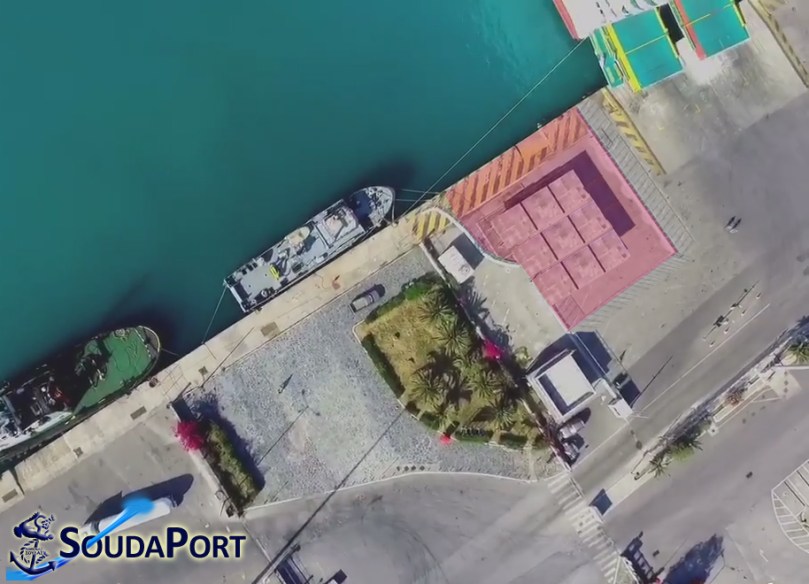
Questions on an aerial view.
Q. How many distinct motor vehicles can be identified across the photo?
4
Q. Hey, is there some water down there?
Yes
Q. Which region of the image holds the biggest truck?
bottom left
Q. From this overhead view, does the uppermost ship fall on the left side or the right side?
right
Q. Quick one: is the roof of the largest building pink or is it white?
pink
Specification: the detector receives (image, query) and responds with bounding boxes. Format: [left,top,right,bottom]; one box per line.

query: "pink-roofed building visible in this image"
[480,170,630,321]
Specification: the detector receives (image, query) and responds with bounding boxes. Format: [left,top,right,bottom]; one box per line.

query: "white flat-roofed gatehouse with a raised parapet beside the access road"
[525,332,596,429]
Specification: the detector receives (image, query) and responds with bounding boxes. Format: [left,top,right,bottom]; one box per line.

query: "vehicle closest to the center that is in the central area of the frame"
[348,287,383,312]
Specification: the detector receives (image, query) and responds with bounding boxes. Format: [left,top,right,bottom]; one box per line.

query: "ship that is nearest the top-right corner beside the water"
[555,0,750,93]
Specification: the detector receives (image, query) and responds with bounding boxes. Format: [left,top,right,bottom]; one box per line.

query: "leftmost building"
[438,244,475,283]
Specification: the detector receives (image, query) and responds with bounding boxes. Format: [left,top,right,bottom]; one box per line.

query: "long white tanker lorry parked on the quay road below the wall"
[81,489,179,533]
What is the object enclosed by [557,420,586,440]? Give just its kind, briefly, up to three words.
car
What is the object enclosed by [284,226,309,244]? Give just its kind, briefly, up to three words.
boat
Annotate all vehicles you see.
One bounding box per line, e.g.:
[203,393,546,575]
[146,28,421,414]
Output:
[81,489,179,533]
[559,439,581,462]
[348,287,383,312]
[557,420,586,440]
